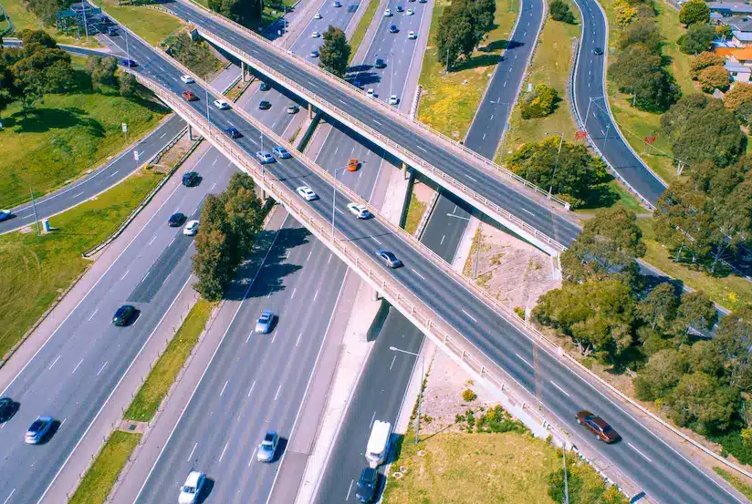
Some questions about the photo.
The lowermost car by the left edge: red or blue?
blue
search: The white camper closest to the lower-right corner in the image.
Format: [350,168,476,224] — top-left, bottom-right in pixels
[364,420,393,468]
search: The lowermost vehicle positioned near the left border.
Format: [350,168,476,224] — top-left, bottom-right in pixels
[24,417,56,446]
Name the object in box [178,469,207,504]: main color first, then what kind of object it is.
white car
